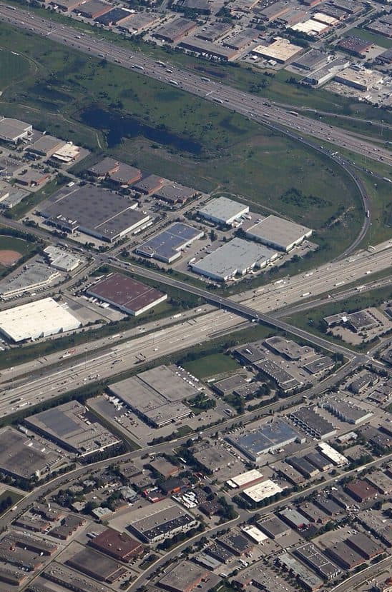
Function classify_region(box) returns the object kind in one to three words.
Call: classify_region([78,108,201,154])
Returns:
pond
